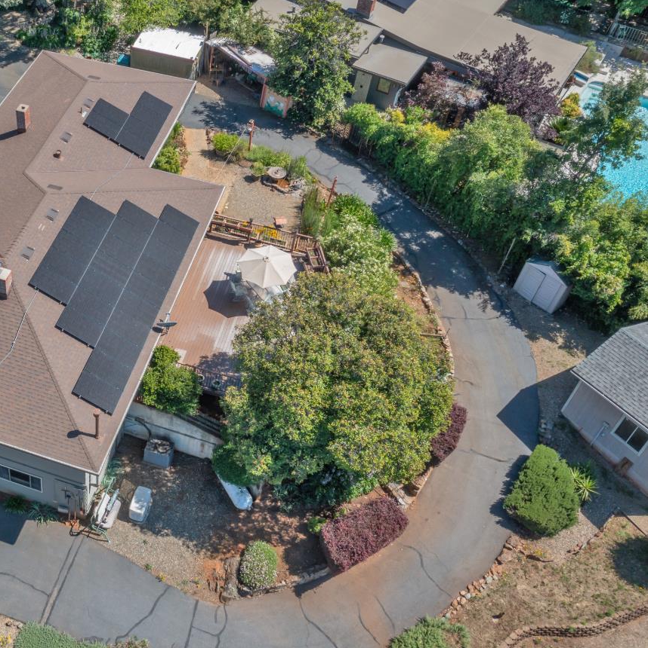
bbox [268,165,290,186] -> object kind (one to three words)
fountain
